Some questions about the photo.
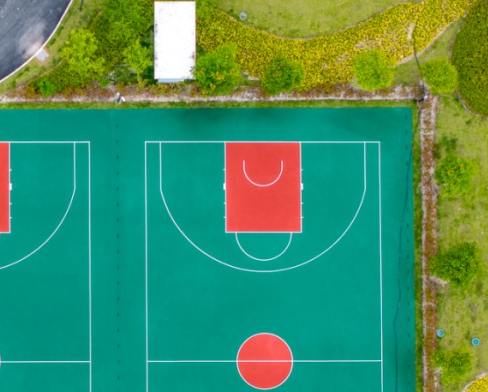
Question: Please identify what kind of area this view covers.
sports ground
